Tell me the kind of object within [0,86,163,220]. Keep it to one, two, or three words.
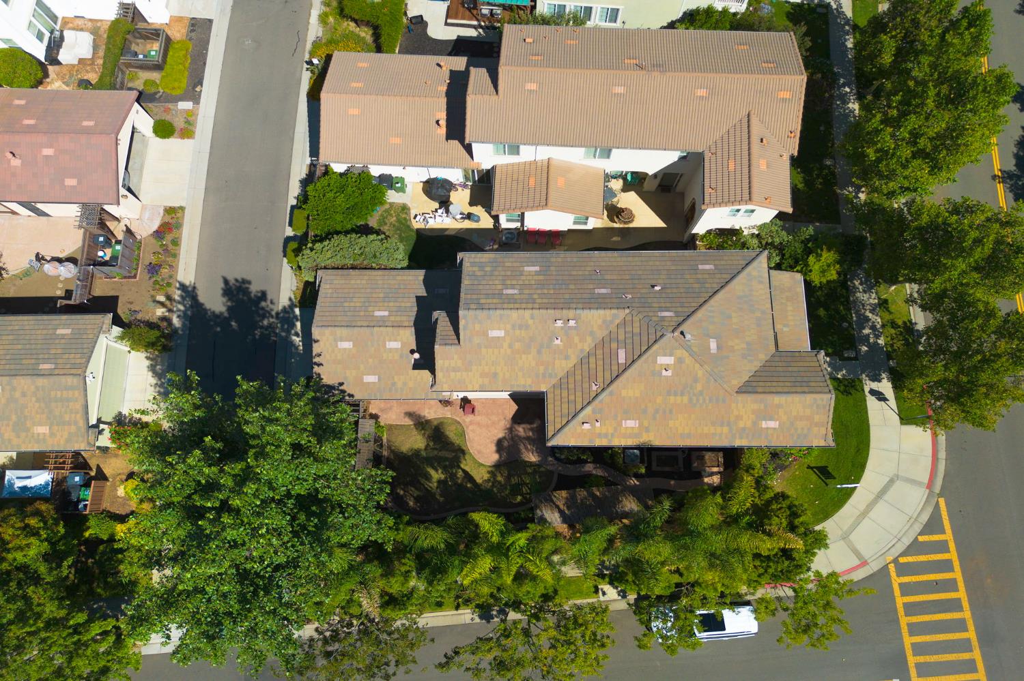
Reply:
house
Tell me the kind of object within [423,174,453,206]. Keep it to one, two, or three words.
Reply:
umbrella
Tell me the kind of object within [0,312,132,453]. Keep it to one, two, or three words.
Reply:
house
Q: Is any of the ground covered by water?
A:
No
